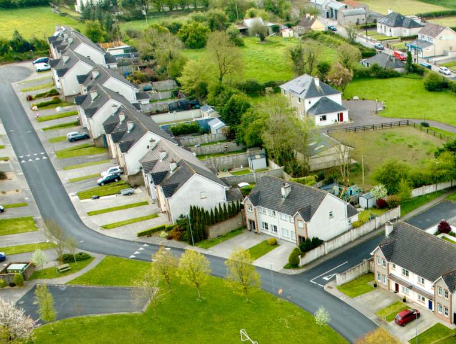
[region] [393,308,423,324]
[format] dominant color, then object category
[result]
red car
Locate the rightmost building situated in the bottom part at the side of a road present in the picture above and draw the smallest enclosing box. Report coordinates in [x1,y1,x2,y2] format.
[370,211,456,319]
